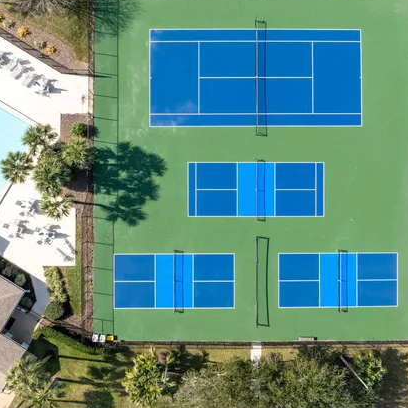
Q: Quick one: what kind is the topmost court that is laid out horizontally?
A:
tennis court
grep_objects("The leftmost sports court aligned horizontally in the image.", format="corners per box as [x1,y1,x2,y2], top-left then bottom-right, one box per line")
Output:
[114,254,234,308]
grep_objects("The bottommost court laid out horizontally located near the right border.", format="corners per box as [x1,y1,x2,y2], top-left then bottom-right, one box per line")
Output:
[279,253,397,307]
